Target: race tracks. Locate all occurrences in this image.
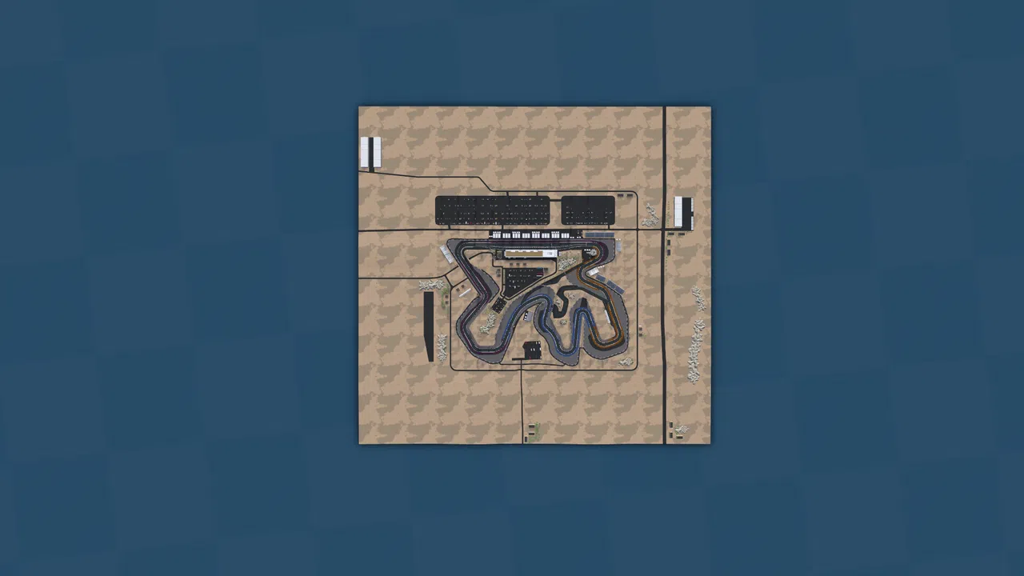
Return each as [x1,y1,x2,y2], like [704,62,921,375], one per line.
[458,243,621,354]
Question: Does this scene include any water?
Yes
